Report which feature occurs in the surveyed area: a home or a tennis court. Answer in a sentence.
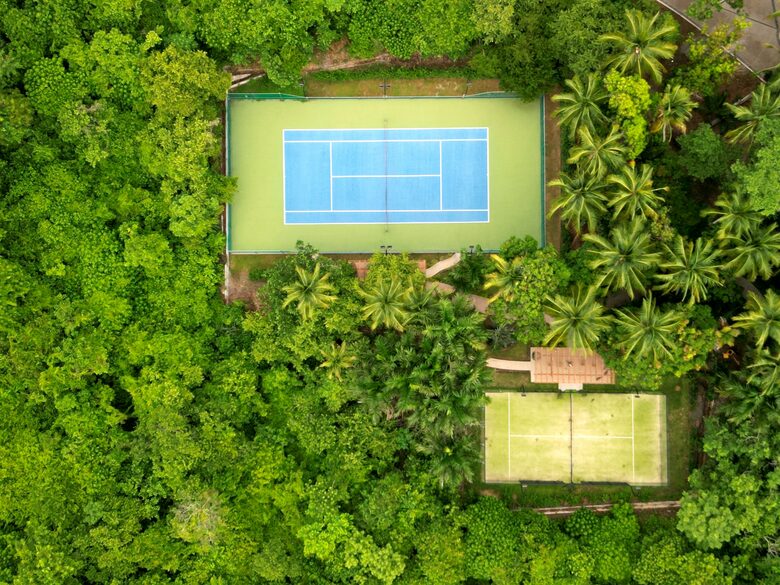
Of the two, only a tennis court appears.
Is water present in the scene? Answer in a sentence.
No, water can't be seen anywhere here.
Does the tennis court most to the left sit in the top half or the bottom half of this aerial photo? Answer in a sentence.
You can find the tennis court most to the left in the top half.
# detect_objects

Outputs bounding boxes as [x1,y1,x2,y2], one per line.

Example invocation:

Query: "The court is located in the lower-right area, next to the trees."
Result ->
[484,390,661,484]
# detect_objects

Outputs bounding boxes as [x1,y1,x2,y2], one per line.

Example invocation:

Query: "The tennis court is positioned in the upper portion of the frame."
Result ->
[231,97,542,252]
